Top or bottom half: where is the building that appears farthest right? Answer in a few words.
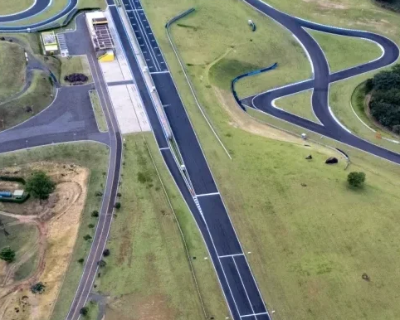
top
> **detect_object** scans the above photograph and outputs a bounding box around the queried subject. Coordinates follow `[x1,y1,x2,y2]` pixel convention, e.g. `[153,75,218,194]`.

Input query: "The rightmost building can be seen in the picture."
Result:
[86,11,118,67]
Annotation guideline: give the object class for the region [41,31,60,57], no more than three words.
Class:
building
